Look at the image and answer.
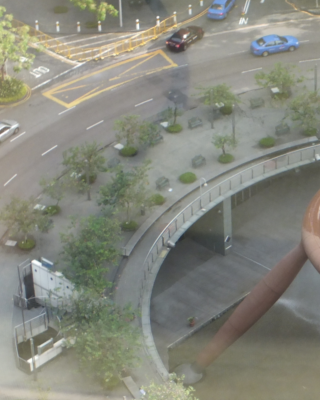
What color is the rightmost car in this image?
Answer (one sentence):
The color of the rightmost car is blue.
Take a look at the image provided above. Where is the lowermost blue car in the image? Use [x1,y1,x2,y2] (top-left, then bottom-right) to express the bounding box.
[250,33,300,57]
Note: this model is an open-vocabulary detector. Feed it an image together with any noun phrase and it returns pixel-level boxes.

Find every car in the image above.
[165,25,205,51]
[0,118,20,143]
[250,33,300,57]
[206,0,236,18]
